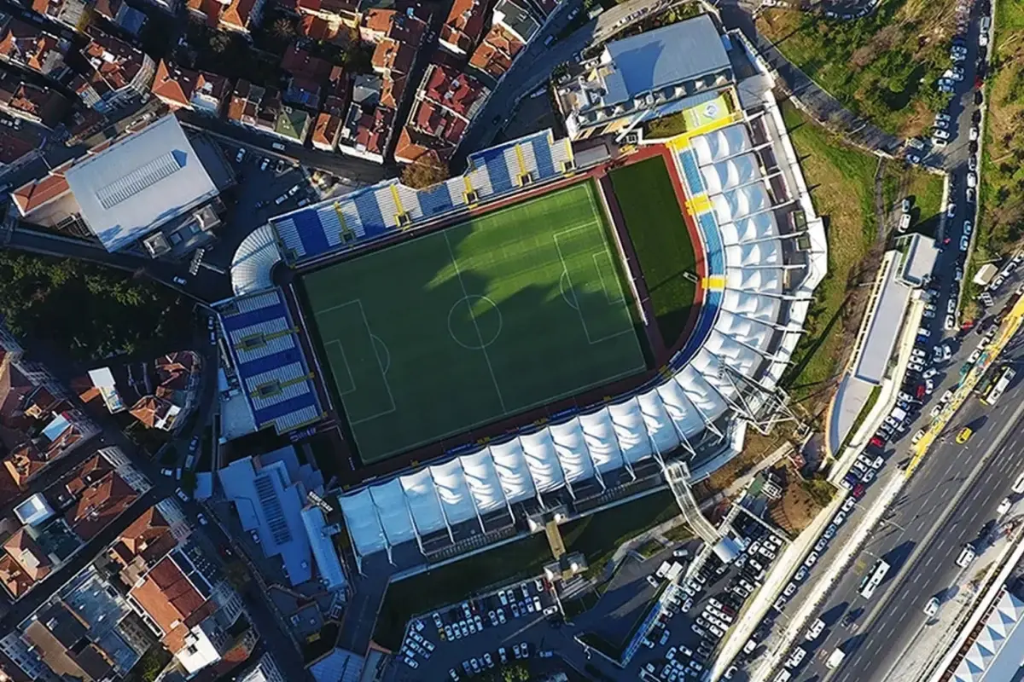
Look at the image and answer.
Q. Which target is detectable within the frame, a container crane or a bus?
bus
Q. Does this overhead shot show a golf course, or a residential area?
residential area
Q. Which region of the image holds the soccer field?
center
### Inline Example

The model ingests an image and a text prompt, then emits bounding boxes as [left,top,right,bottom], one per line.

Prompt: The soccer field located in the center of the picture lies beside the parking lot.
[291,174,658,475]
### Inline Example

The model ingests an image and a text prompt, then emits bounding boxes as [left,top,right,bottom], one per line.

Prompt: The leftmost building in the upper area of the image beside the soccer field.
[65,113,238,264]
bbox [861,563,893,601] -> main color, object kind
white bus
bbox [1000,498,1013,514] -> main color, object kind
white vehicle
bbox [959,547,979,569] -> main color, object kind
white vehicle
